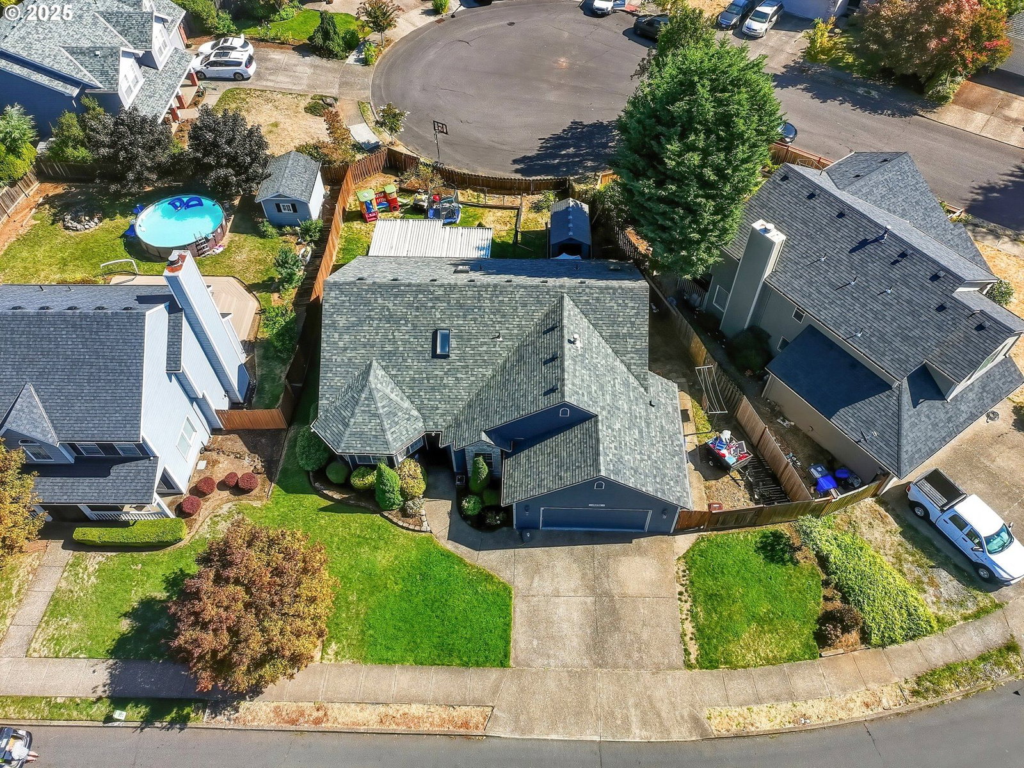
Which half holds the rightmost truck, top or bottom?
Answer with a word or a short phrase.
bottom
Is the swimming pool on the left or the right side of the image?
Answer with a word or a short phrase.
left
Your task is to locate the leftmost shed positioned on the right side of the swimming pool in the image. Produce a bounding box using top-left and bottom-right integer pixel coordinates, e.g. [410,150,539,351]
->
[256,153,324,225]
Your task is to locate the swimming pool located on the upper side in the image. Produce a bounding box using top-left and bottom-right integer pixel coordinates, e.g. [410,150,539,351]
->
[135,193,231,260]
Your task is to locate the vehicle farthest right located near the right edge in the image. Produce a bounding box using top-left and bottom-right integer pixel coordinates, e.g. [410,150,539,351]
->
[907,470,1024,590]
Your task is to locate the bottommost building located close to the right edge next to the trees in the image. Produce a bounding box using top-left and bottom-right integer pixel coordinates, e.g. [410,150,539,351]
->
[702,151,1024,487]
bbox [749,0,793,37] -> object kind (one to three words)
car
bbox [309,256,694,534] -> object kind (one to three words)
house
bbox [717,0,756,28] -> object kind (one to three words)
car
